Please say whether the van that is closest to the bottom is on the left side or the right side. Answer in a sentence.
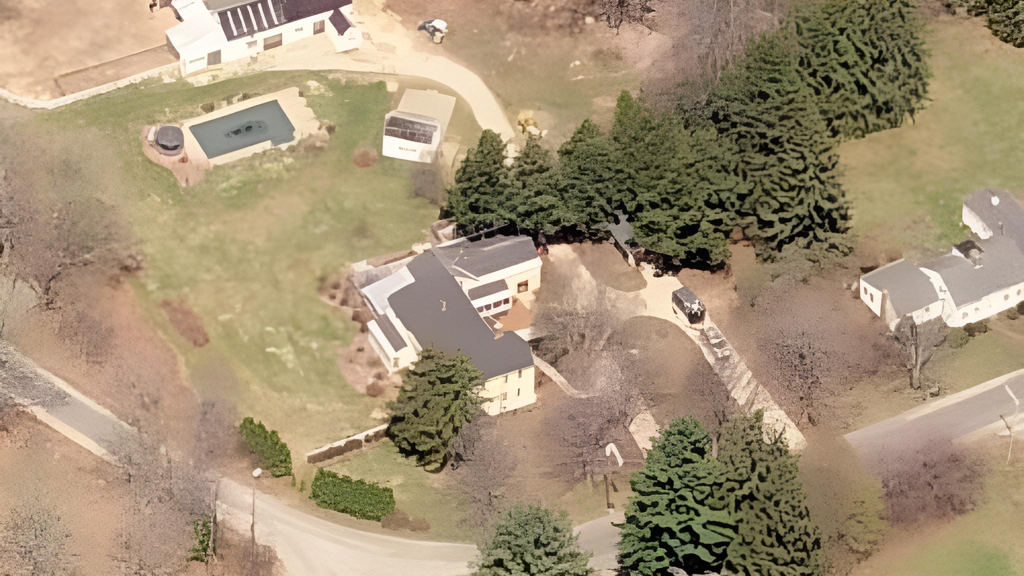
You can find the van that is closest to the bottom on the right side of the picture.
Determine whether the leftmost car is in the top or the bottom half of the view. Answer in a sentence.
You can find the leftmost car in the top half.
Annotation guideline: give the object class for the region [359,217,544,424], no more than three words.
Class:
house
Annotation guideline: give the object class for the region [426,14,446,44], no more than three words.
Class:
car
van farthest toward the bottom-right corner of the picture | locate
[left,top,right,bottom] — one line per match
[670,282,709,330]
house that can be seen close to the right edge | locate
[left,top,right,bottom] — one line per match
[859,174,1024,337]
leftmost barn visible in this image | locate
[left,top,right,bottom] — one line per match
[167,0,361,78]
